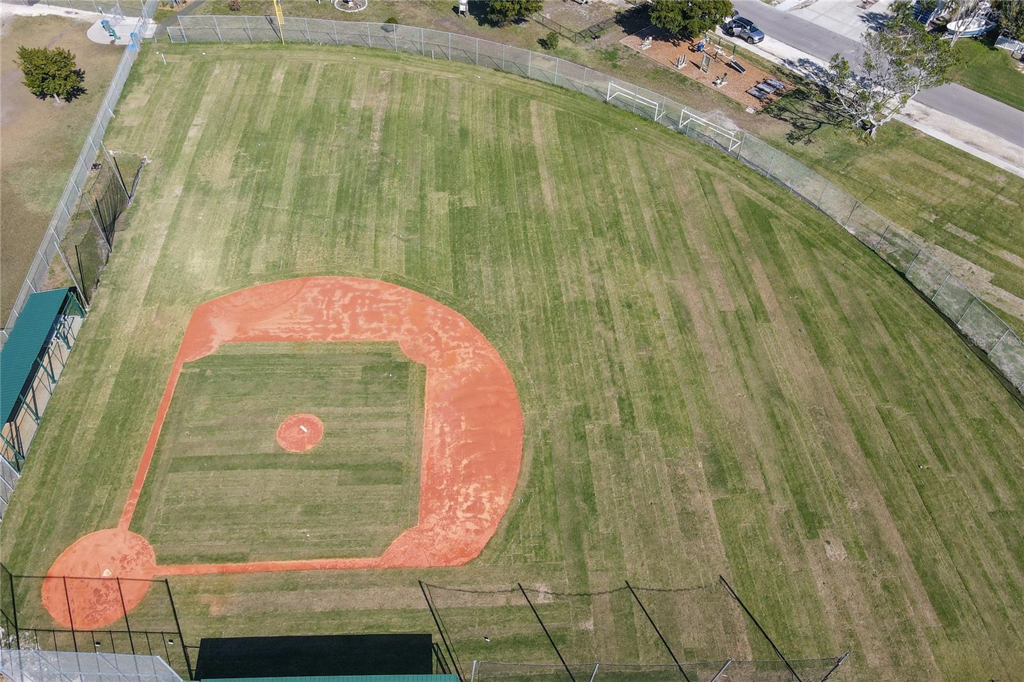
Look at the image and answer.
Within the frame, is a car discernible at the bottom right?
No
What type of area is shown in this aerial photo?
sports ground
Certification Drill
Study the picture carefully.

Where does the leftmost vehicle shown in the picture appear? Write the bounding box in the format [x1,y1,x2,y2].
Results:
[725,8,765,44]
